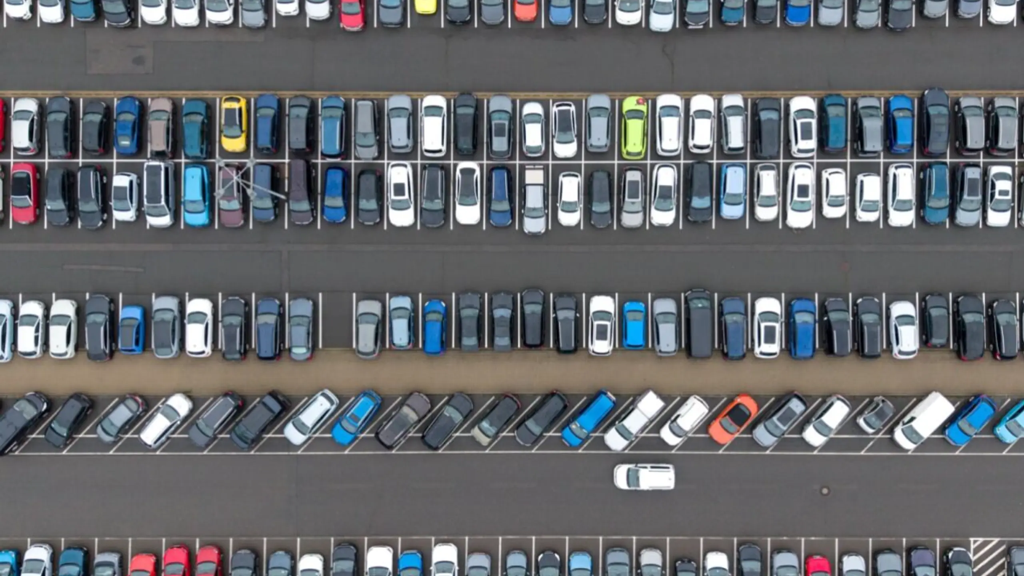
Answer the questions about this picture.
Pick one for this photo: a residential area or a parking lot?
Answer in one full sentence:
This image shows a parking lot.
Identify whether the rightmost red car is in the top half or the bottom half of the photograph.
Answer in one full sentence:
The bottom half of the photo is where the rightmost red car is.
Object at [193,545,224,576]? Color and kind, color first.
red car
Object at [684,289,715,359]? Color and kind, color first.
gray van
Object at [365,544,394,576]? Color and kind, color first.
white car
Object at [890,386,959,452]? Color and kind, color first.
white van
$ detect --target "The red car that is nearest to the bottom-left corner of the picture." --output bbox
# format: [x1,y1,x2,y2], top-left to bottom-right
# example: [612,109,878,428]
[127,553,158,576]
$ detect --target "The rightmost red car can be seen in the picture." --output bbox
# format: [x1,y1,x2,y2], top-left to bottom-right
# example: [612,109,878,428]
[803,555,831,576]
